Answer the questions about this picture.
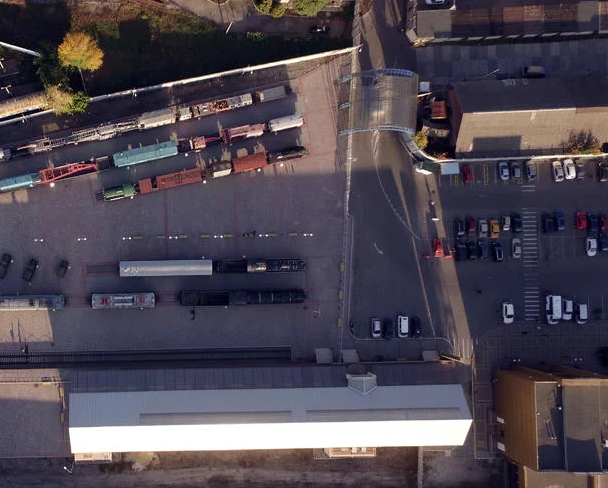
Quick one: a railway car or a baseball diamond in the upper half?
railway car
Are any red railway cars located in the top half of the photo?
Yes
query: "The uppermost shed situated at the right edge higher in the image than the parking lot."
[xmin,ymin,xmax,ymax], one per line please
[409,2,608,43]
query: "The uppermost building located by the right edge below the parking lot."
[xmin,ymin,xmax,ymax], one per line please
[494,366,608,473]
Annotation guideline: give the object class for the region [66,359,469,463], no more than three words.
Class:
building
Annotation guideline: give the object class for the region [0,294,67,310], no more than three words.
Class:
rail car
